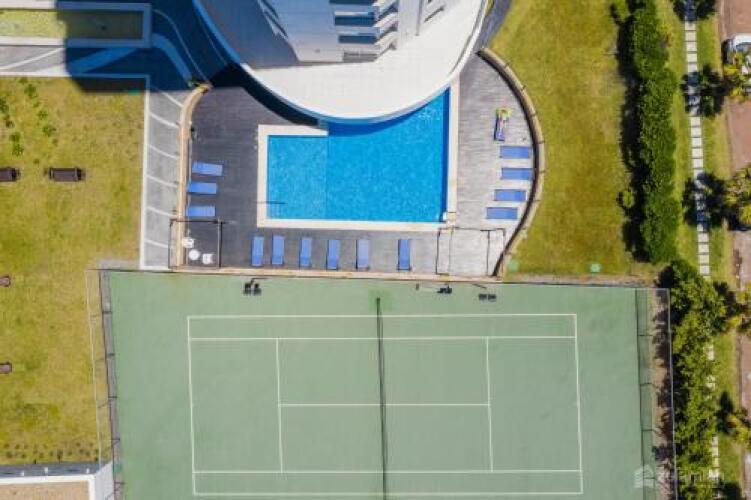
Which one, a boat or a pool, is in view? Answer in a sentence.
There is a pool in the scene.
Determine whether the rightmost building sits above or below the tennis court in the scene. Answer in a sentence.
The rightmost building is found above the tennis court in the photo.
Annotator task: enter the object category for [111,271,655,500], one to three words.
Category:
tennis court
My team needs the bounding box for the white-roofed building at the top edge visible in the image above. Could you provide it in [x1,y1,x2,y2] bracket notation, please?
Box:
[199,0,490,120]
